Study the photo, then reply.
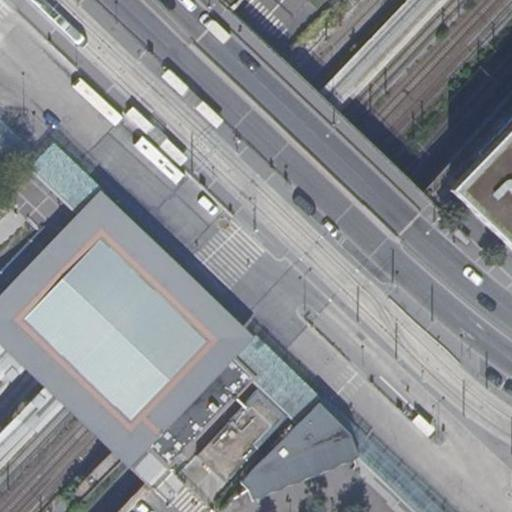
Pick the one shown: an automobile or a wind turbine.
automobile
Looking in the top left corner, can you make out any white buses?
Yes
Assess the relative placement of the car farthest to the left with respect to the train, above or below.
below it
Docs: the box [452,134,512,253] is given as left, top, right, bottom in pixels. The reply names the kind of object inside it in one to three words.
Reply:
building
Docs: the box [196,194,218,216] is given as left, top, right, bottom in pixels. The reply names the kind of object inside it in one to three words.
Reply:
vehicle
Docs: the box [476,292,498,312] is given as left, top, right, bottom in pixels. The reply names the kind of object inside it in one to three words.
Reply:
car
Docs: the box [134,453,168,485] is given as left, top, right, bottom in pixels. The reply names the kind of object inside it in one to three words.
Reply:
building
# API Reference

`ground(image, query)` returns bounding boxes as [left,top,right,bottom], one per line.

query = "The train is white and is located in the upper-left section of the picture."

[28,0,84,44]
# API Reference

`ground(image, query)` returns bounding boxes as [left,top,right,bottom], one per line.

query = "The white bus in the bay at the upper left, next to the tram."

[72,76,126,128]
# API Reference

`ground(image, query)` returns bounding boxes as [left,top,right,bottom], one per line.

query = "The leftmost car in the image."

[42,109,62,129]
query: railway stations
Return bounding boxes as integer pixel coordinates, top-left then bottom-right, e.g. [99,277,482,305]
[0,191,250,468]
